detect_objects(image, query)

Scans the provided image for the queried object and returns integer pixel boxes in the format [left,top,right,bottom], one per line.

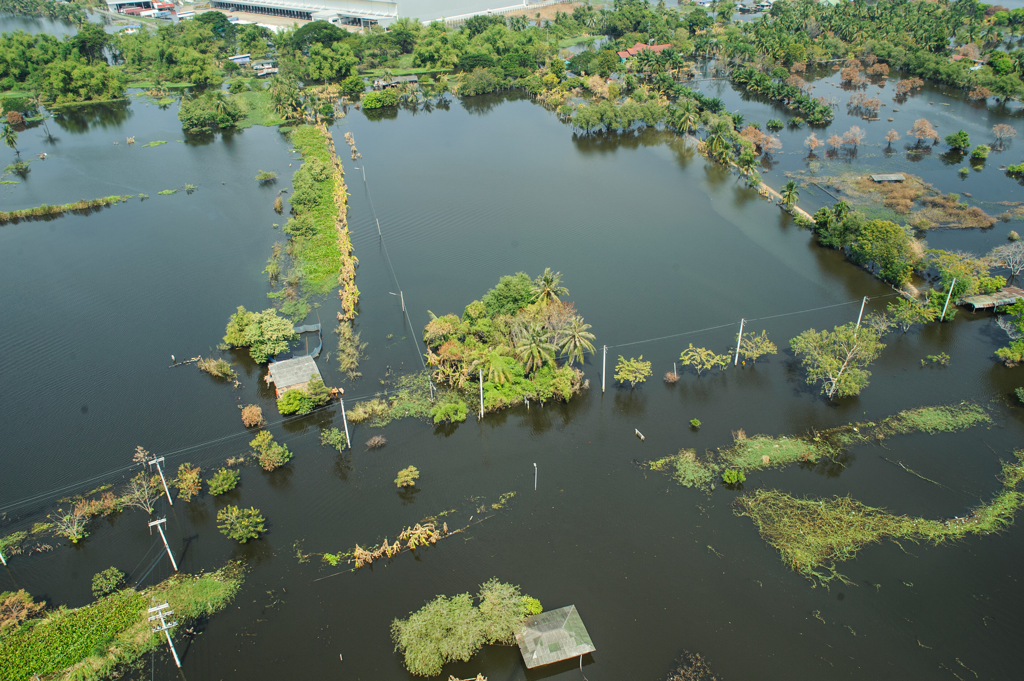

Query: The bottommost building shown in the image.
[512,604,596,670]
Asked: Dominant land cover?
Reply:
water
